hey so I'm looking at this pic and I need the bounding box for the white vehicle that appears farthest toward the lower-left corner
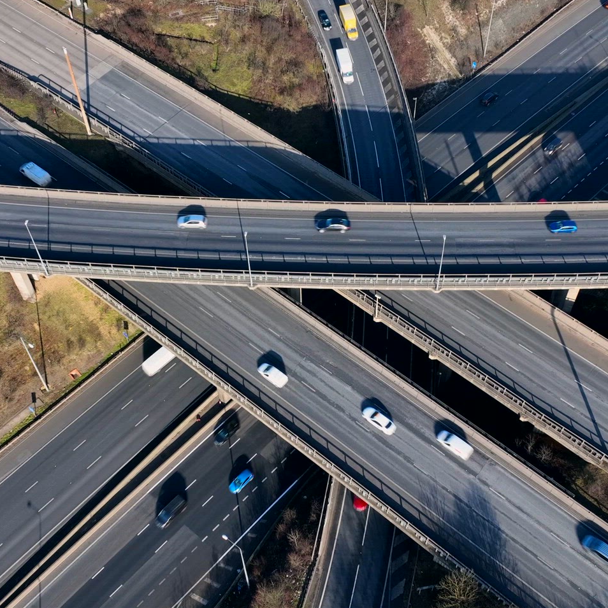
[146,350,172,375]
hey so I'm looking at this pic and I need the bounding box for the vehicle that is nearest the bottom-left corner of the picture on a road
[155,497,188,528]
